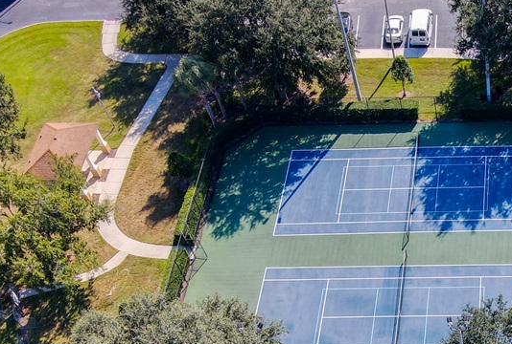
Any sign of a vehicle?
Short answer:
Yes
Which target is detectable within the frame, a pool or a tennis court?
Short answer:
tennis court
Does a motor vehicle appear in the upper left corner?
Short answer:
No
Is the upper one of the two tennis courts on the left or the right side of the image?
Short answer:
right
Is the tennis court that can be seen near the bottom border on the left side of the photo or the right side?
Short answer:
right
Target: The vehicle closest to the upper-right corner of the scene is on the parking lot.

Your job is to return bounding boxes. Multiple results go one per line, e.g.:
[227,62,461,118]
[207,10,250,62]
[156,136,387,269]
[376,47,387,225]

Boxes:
[410,2,432,40]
